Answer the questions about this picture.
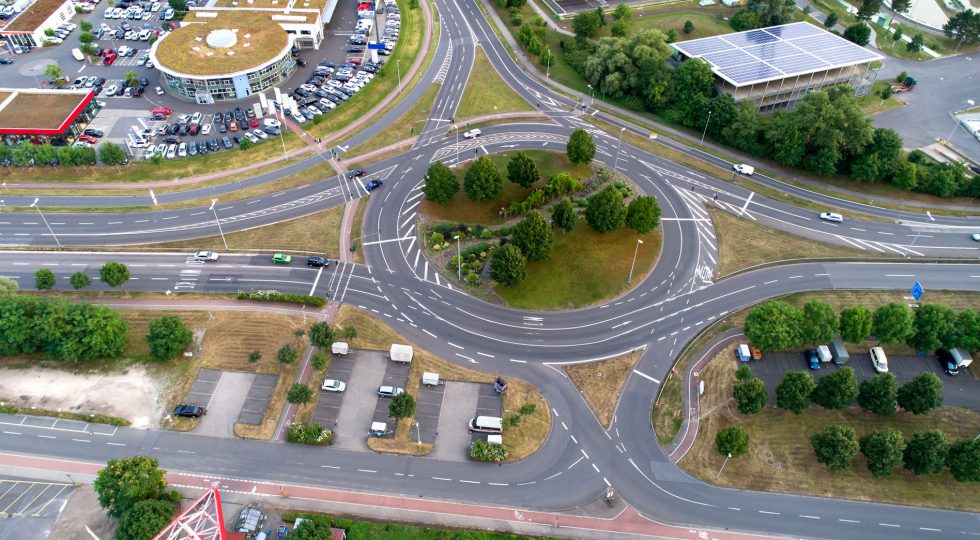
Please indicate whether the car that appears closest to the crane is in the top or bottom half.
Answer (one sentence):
The car that appears closest to the crane sits in the bottom half of the picture.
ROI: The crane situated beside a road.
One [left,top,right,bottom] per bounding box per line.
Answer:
[151,483,233,540]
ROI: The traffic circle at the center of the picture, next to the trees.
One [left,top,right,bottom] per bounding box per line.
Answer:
[362,124,719,358]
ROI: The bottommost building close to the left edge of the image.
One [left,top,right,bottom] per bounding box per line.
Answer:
[0,90,98,148]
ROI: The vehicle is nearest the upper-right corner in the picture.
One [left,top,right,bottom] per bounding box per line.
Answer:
[894,79,918,94]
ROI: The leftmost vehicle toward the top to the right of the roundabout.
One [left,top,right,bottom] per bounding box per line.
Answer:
[731,162,754,175]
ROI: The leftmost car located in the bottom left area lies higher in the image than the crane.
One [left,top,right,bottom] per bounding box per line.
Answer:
[175,404,204,418]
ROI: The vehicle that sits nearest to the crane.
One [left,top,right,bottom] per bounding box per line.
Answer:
[231,501,252,531]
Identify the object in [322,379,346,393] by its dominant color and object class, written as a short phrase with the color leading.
white vehicle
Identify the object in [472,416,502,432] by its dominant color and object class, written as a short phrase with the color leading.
white vehicle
